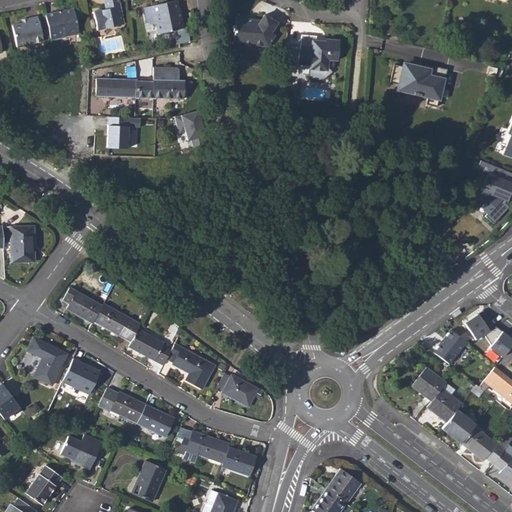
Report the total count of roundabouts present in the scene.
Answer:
1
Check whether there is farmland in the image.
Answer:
No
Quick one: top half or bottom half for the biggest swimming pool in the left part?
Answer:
top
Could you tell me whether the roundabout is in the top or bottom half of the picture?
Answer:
bottom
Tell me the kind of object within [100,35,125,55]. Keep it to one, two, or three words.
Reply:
swimming pool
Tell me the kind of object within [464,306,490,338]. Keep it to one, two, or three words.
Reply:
house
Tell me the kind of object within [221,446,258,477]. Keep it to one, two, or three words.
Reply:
house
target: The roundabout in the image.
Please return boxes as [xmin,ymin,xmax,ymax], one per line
[289,356,362,429]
